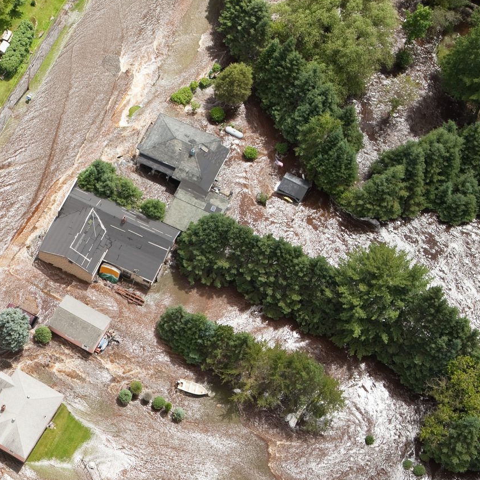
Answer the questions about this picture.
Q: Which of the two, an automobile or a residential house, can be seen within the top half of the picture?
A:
residential house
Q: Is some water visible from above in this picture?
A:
Yes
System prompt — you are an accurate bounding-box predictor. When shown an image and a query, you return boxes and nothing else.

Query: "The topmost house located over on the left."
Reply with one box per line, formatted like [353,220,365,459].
[131,115,232,195]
